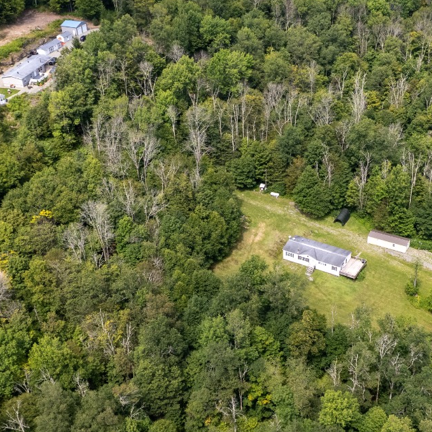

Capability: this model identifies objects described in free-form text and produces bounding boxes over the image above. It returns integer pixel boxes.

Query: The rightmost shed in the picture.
[367,229,412,252]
